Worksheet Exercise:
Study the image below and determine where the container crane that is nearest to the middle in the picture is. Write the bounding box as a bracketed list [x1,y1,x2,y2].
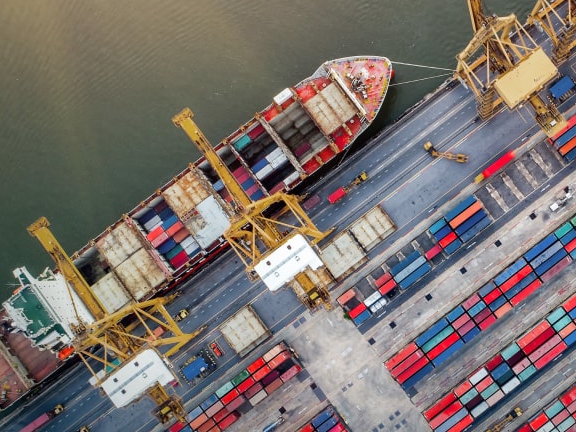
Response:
[171,105,338,318]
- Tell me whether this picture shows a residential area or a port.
port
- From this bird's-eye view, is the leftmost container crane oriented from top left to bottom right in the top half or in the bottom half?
bottom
